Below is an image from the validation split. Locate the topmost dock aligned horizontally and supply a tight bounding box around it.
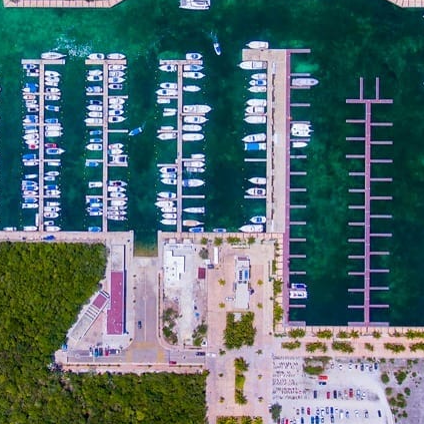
[242,50,267,62]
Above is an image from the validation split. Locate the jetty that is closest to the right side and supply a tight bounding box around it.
[346,78,393,326]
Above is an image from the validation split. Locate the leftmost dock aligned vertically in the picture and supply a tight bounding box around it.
[22,59,66,232]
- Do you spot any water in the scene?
Yes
